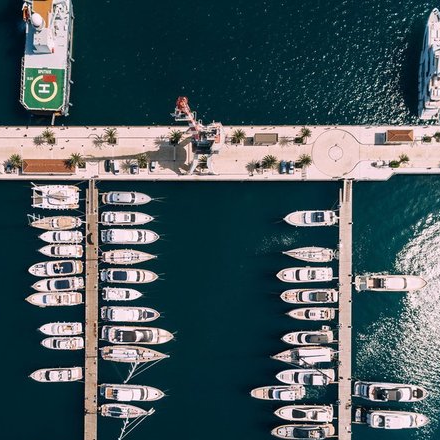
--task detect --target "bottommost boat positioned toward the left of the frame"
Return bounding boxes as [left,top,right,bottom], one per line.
[98,401,165,440]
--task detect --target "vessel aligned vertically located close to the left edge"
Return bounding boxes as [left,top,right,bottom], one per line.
[20,0,81,128]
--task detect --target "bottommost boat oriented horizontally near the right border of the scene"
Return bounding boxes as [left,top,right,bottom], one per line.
[364,409,431,430]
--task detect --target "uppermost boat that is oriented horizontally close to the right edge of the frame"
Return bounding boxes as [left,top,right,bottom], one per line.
[347,274,429,292]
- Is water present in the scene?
Yes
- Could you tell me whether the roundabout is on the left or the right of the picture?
right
